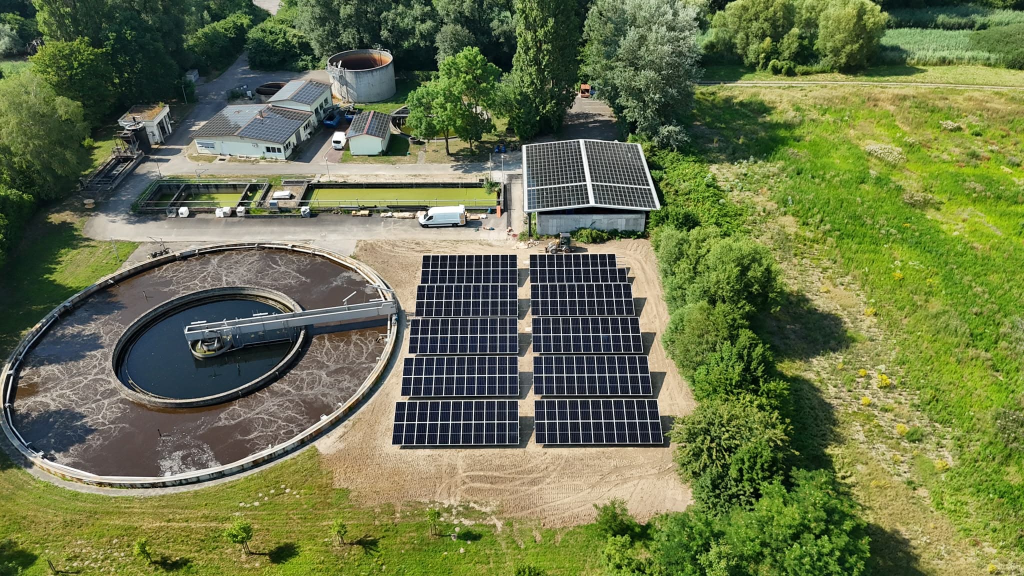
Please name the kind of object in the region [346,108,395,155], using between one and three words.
shed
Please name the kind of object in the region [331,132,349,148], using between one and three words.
vehicle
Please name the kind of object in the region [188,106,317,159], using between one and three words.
building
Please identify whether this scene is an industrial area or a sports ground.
industrial area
